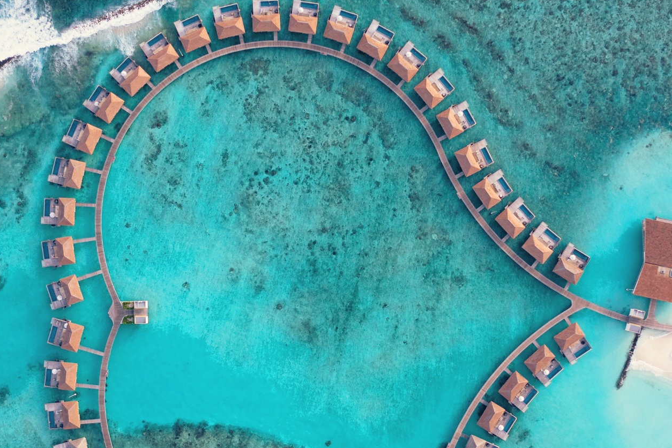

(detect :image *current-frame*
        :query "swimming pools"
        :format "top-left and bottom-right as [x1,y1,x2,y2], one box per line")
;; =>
[523,389,540,407]
[519,202,537,219]
[180,14,200,26]
[503,417,518,435]
[259,0,278,6]
[572,246,590,261]
[543,226,562,242]
[299,0,319,8]
[481,144,495,163]
[145,31,163,47]
[46,284,58,304]
[48,409,55,429]
[440,73,456,91]
[339,8,358,19]
[115,57,132,73]
[51,157,62,177]
[376,23,395,37]
[48,324,59,344]
[219,2,239,13]
[463,107,477,126]
[42,241,50,261]
[67,119,80,138]
[87,85,103,103]
[43,199,50,218]
[498,174,514,193]
[546,366,564,382]
[409,46,428,62]
[574,345,592,361]
[45,367,51,386]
